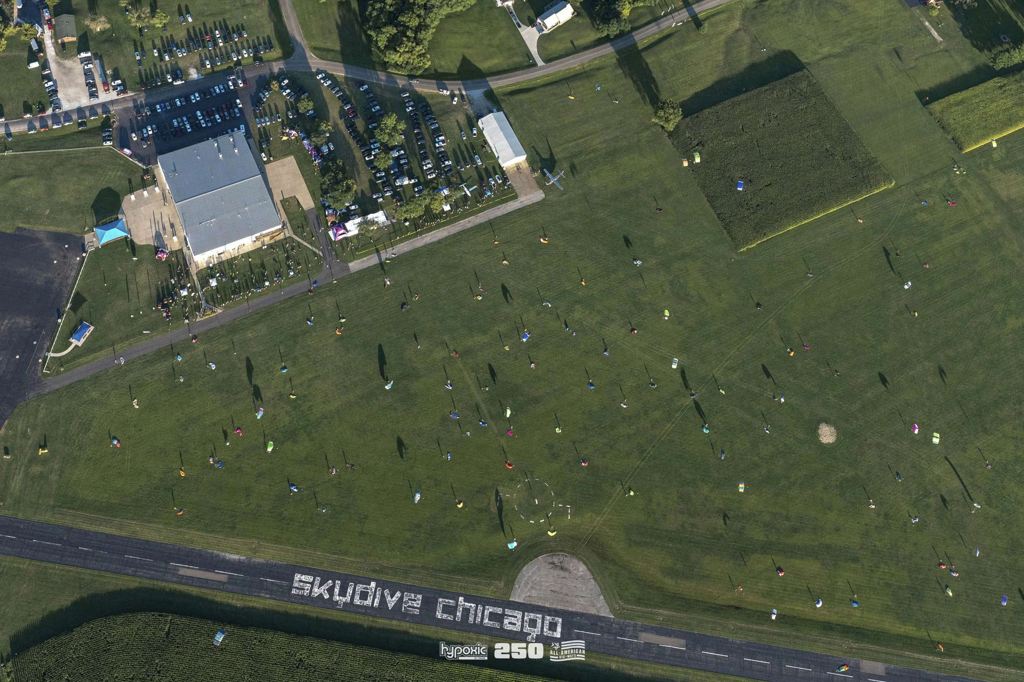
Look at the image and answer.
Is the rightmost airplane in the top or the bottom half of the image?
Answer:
top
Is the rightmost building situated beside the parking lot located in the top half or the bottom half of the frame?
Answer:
top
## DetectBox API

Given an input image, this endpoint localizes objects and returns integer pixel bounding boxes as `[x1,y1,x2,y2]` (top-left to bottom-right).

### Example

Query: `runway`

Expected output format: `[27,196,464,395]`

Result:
[0,515,1002,682]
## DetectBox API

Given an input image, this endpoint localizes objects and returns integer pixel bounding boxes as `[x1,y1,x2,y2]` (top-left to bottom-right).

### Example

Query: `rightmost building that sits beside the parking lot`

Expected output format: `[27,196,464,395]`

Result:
[151,132,289,263]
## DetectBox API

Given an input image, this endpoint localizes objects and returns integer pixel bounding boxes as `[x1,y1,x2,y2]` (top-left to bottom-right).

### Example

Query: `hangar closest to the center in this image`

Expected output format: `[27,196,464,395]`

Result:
[475,113,527,170]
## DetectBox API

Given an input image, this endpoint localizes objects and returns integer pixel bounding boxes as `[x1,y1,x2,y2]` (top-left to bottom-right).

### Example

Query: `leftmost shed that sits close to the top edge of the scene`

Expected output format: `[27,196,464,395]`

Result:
[53,13,77,43]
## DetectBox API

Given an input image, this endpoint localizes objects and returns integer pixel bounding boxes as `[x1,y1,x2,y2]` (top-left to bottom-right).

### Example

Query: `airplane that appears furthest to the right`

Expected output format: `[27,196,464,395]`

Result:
[542,166,567,189]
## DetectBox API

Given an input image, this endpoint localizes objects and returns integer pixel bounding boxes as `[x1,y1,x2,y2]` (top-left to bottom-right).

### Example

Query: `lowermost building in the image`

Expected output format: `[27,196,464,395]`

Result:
[67,319,99,350]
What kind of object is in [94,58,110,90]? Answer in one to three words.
vehicle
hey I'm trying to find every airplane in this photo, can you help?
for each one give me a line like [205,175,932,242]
[542,166,567,189]
[459,180,478,198]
